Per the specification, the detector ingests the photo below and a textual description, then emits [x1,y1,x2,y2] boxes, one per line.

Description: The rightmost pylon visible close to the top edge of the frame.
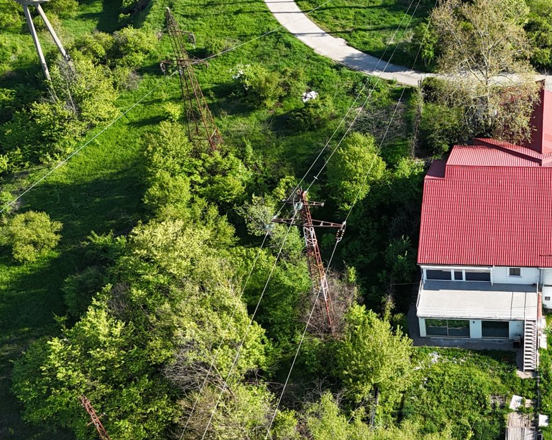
[151,9,219,152]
